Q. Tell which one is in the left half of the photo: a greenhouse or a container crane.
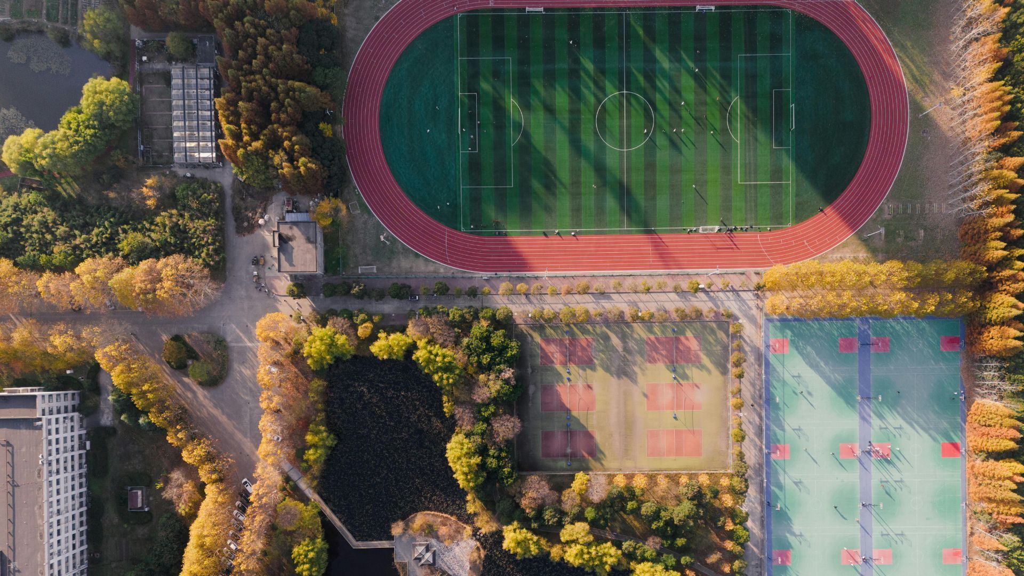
greenhouse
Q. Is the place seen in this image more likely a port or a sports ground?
sports ground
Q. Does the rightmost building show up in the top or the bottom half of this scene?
bottom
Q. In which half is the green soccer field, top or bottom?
top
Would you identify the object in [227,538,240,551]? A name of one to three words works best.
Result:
vehicle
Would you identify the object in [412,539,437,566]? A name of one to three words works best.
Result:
building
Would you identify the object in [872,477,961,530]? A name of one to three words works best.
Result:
basketball court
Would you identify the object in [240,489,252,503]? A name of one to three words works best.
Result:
vehicle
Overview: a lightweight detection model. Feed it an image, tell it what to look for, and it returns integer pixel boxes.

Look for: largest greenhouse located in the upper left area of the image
[172,66,222,166]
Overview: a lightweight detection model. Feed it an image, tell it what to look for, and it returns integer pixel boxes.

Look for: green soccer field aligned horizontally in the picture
[379,5,871,236]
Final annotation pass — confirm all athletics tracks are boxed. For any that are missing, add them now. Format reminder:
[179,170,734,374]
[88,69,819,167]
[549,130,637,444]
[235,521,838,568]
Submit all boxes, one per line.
[341,0,909,274]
